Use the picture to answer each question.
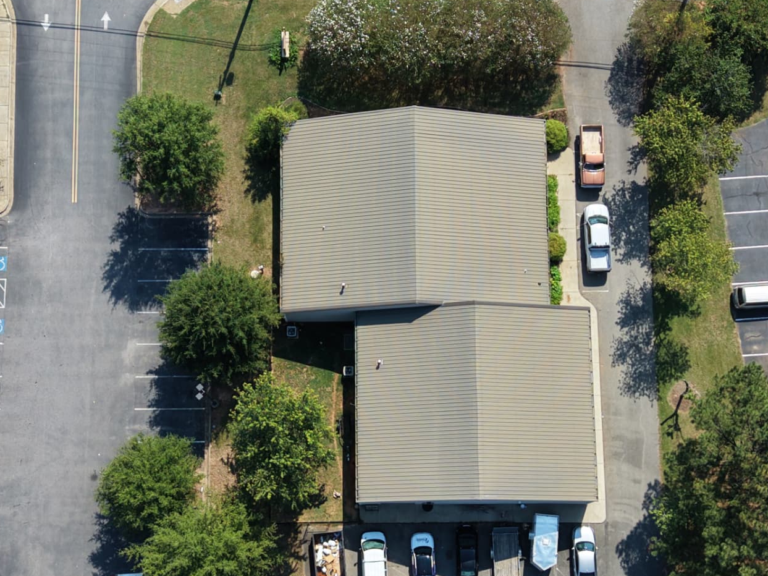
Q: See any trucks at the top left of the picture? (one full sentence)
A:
No, at the top left of the picture there is no truck.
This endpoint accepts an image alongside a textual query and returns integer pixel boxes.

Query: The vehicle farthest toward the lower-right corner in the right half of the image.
[569,526,600,576]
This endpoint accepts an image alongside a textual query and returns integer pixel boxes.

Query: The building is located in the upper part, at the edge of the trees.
[277,108,553,318]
